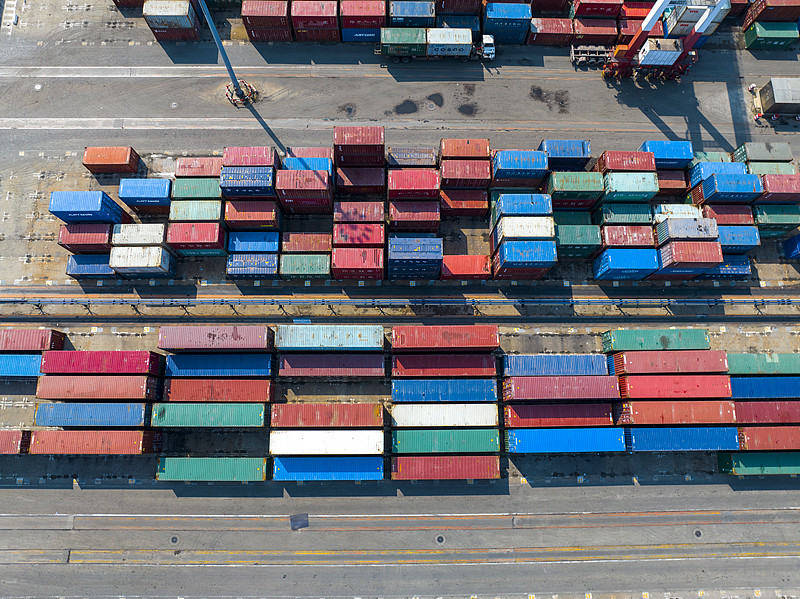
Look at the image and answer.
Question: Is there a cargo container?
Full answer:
Yes, looking at the shot, I can spot a cargo container.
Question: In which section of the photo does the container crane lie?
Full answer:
Look in the top right portion of the view to spot the container crane.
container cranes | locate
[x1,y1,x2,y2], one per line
[600,0,726,89]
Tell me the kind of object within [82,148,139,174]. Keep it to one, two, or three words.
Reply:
shipping container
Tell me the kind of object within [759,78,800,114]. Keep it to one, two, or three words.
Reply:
shed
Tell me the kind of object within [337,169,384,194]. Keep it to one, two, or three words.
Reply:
shipping container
